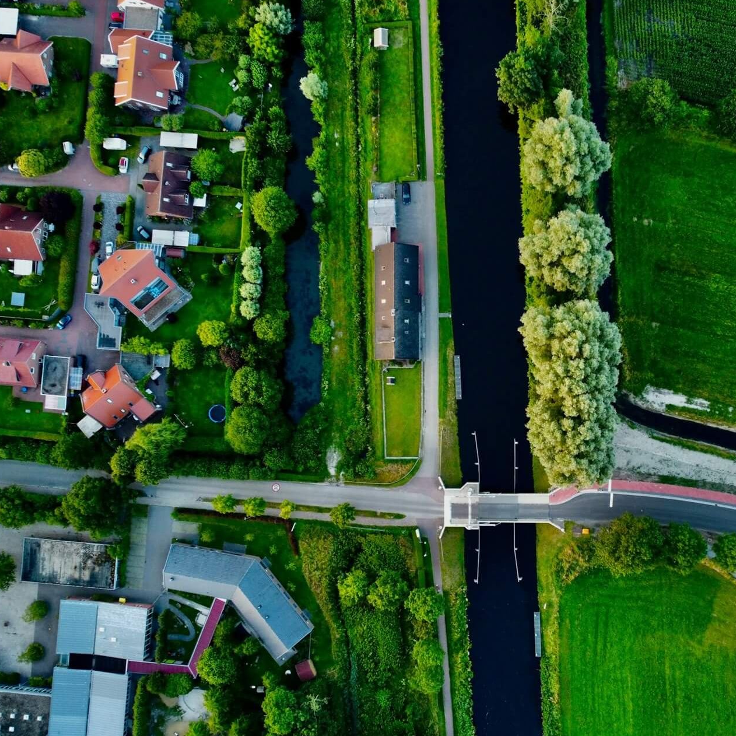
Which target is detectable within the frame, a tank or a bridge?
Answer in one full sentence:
This aerial view contains a bridge.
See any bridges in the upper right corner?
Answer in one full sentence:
No, there's no bridge to be seen in the upper right corner.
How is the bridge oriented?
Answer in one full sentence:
The bridge is laid out from side to side.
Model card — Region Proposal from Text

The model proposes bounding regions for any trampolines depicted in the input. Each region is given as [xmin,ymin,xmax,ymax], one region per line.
[207,404,226,423]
